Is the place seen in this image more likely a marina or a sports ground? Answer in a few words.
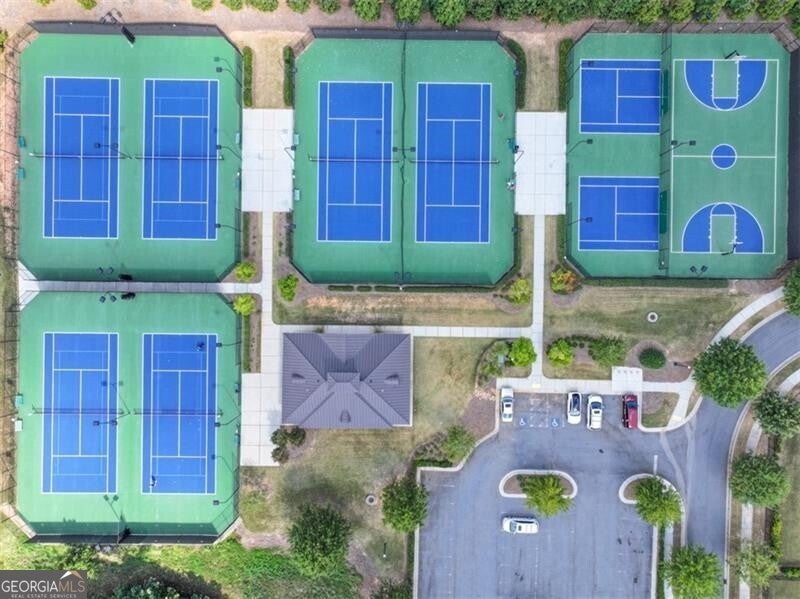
sports ground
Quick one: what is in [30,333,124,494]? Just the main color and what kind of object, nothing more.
blue tennis court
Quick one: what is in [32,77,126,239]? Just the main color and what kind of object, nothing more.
blue tennis court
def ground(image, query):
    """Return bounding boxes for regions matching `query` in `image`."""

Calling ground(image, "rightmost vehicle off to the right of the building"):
[621,393,639,428]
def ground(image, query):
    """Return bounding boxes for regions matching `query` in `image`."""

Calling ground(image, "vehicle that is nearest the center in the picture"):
[500,386,515,420]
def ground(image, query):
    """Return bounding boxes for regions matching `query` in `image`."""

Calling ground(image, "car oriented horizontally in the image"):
[502,515,538,533]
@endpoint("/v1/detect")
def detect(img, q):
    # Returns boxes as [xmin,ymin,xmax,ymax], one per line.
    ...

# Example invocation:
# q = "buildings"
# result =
[283,330,412,428]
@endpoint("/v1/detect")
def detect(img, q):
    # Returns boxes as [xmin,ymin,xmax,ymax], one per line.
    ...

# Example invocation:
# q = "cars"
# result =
[587,394,604,429]
[502,515,538,533]
[500,386,515,420]
[621,393,639,428]
[565,391,581,423]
